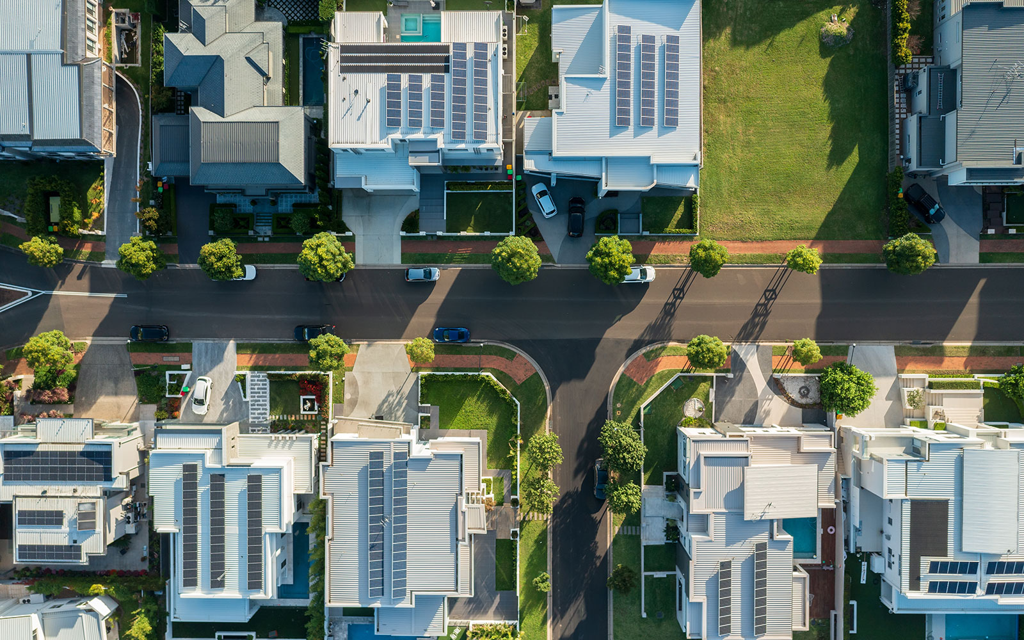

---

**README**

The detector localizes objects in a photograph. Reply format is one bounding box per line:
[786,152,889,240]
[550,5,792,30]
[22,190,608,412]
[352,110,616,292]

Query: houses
[0,592,126,640]
[900,0,1024,185]
[841,419,1024,614]
[524,0,702,194]
[328,10,512,193]
[665,417,837,640]
[0,0,127,161]
[151,0,315,227]
[320,416,487,636]
[150,414,322,623]
[0,416,150,564]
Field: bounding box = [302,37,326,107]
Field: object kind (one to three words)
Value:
swimming pool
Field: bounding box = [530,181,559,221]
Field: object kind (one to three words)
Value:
car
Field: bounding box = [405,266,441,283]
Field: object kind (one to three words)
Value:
car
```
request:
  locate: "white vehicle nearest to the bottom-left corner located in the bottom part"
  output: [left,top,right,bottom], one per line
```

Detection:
[191,375,214,416]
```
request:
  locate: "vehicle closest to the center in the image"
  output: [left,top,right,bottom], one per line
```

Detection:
[433,327,471,344]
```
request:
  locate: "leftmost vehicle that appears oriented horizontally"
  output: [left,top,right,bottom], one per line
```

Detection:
[130,325,171,341]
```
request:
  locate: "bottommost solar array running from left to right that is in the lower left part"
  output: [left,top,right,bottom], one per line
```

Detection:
[17,544,81,560]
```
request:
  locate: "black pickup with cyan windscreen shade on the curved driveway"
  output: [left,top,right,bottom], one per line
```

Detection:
[903,181,948,224]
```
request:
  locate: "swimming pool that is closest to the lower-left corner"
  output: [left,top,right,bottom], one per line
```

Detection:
[276,519,311,600]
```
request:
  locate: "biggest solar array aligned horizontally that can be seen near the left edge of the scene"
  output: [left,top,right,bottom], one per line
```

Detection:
[2,450,112,481]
